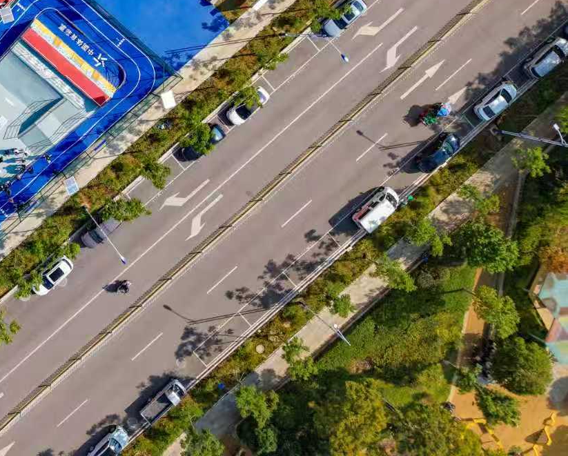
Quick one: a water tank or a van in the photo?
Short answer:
van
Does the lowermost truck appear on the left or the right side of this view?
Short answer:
left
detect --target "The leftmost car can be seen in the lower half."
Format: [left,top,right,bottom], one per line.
[34,254,78,297]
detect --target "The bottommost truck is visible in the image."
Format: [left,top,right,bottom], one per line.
[84,415,133,456]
